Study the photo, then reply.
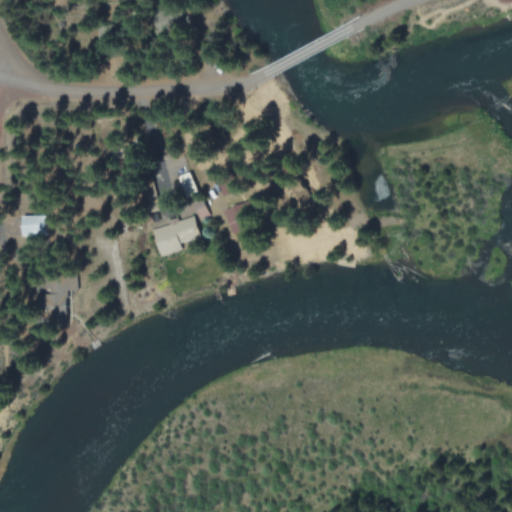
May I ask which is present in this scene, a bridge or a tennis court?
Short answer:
bridge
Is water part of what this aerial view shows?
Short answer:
Yes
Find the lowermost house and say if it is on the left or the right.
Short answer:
left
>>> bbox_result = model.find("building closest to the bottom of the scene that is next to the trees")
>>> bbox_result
[49,276,78,322]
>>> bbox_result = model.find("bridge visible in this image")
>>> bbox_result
[248,17,367,83]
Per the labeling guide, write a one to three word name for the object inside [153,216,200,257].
house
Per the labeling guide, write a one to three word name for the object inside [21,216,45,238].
shed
